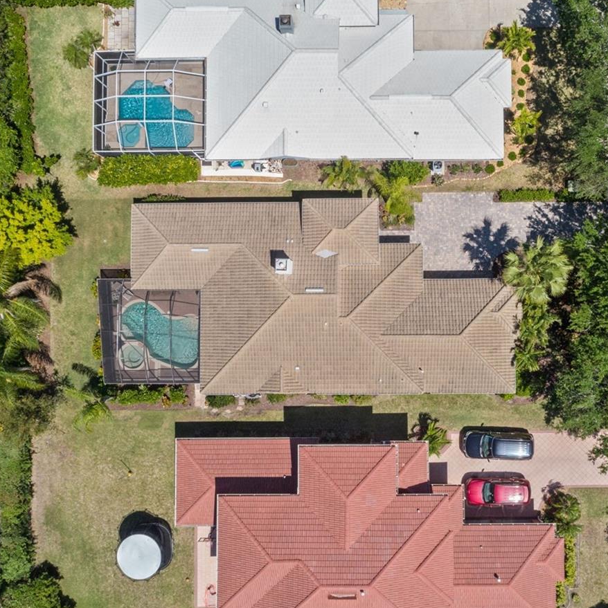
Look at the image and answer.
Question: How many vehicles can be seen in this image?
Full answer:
The number of vehicles here is 2.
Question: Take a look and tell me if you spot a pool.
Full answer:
Yes, the picture does show a pool.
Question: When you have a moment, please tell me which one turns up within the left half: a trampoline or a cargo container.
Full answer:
You can see a trampoline within the left half.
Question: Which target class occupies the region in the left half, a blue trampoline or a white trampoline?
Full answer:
The feature located in the left half is a white trampoline.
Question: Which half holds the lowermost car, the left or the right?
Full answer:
The lowermost car sits on the right side.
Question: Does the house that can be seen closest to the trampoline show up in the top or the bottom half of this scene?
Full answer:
The bottom half of the photo is where the house that can be seen closest to the trampoline is.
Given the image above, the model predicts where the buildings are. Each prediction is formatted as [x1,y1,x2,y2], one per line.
[173,436,567,608]
[133,0,514,161]
[129,196,524,397]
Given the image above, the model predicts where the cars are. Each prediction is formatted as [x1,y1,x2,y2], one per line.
[463,428,533,463]
[466,476,530,510]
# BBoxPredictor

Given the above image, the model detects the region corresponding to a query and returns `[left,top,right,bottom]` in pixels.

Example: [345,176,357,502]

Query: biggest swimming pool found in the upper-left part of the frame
[117,77,197,150]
